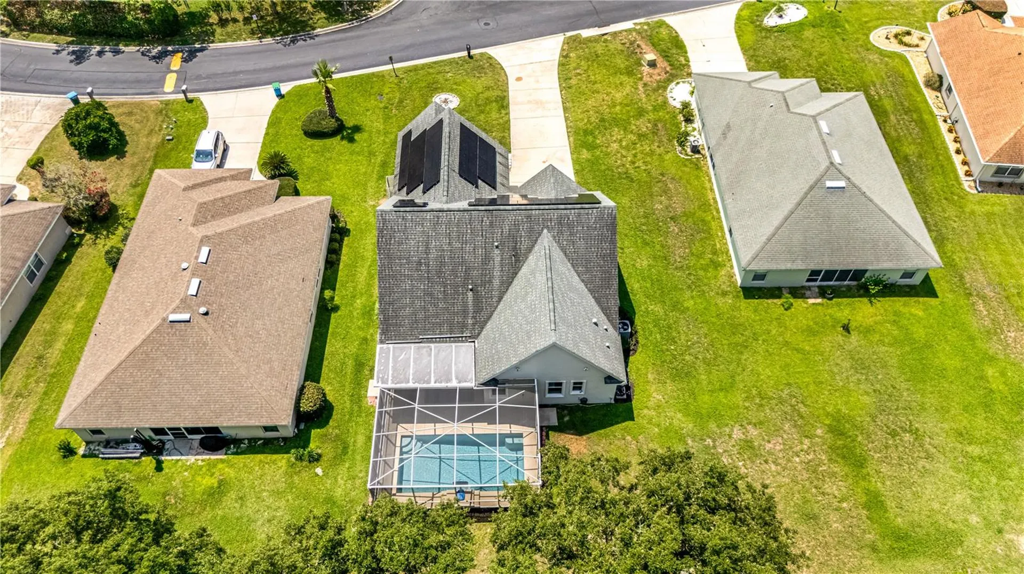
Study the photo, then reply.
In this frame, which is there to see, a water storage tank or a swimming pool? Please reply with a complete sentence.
There is a swimming pool in the scene.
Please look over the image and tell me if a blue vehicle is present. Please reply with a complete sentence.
No, there is no blue vehicle in the image.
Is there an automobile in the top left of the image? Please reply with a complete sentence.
Yes, you'll find an automobile in the top left of the image.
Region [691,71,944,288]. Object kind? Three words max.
house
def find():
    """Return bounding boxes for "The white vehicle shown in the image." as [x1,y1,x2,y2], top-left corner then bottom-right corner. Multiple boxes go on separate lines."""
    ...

[188,132,225,169]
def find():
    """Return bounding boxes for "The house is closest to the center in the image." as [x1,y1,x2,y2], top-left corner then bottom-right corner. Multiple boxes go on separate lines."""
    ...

[368,102,626,403]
